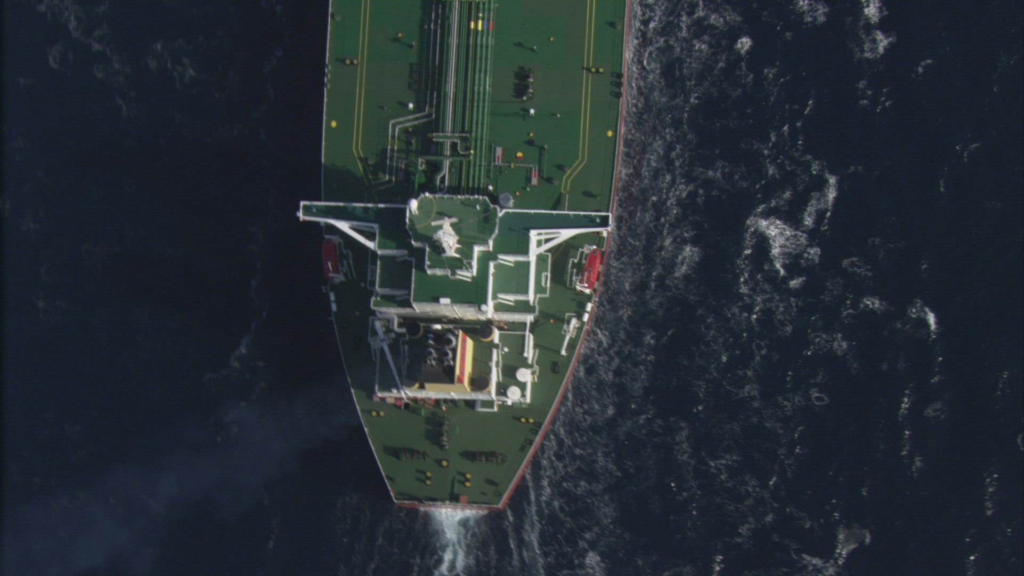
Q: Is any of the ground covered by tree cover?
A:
No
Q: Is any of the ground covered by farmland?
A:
No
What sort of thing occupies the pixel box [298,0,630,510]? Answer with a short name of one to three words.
ship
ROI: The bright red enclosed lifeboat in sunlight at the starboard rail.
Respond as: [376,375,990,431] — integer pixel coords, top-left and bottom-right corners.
[582,248,602,293]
